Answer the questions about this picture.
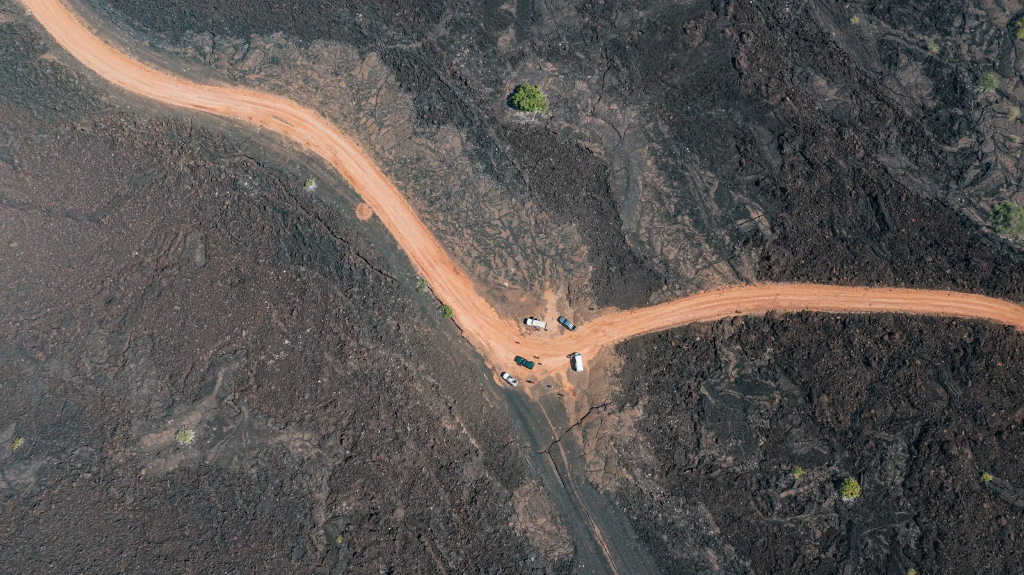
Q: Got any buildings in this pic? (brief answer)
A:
No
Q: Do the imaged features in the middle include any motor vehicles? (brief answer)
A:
Yes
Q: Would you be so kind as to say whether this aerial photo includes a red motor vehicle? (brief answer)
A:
No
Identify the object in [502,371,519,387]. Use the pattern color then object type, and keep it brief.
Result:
white vehicle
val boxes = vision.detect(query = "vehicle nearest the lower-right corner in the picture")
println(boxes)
[570,352,582,372]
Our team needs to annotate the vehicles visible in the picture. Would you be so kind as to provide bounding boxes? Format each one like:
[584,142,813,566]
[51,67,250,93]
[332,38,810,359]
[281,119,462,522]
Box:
[502,371,519,387]
[558,315,578,332]
[516,356,535,370]
[570,352,582,372]
[526,319,547,330]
